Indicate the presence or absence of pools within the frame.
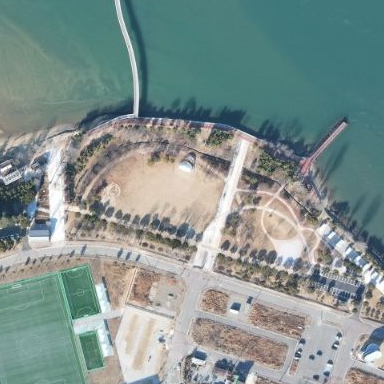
No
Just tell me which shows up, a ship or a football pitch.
football pitch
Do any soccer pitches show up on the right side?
No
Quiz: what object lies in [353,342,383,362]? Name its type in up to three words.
building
